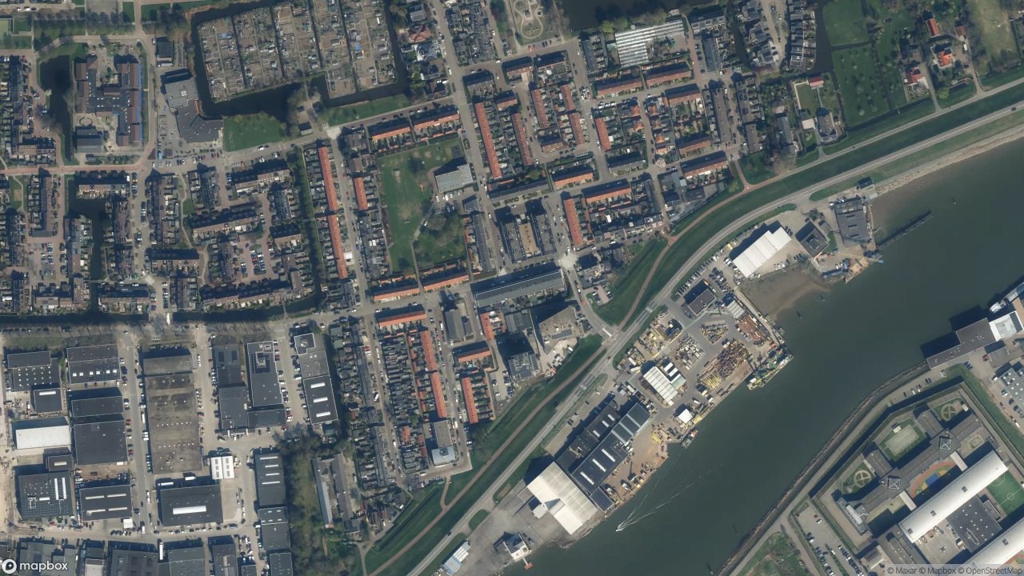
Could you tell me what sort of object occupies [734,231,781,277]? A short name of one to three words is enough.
building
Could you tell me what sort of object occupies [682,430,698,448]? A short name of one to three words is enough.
boat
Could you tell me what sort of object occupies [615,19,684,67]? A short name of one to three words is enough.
greenhouse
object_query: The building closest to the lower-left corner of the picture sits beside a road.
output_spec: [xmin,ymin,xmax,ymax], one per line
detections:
[19,543,56,576]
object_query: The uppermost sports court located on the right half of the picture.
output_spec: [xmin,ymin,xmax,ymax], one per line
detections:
[879,419,926,462]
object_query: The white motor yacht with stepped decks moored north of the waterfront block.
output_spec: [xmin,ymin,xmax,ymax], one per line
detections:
[989,283,1024,313]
